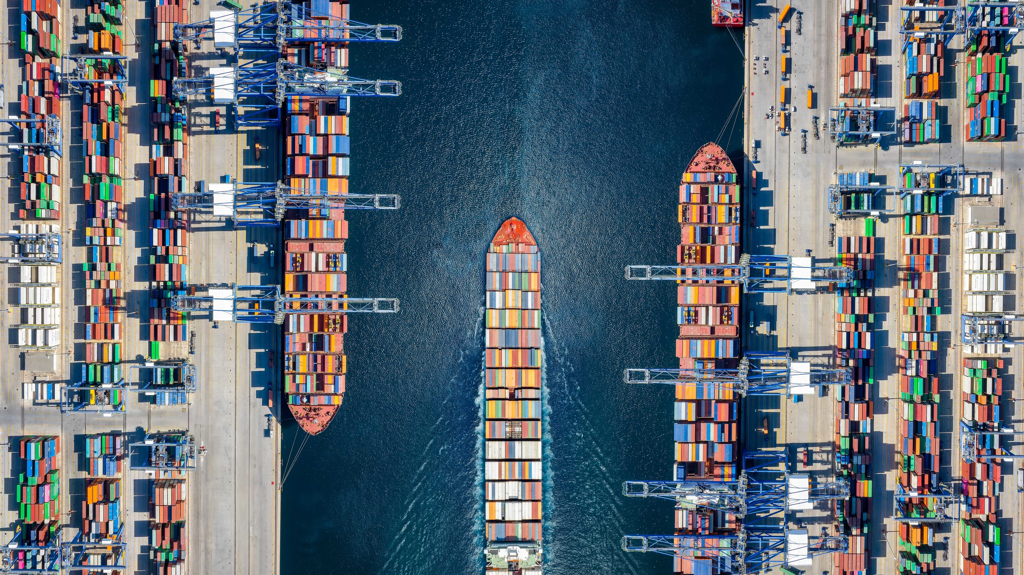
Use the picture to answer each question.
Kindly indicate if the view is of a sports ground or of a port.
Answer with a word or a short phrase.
port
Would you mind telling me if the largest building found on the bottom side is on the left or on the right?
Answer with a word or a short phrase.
left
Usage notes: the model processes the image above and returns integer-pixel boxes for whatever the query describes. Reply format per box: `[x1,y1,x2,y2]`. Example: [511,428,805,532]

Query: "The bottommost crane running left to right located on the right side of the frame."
[621,508,854,565]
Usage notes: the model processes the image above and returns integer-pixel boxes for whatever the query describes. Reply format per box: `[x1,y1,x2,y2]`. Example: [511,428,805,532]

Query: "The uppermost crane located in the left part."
[170,10,403,67]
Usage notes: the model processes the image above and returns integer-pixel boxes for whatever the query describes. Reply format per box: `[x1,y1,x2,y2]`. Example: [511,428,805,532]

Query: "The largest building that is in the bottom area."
[25,351,63,373]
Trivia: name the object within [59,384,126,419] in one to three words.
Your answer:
container crane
